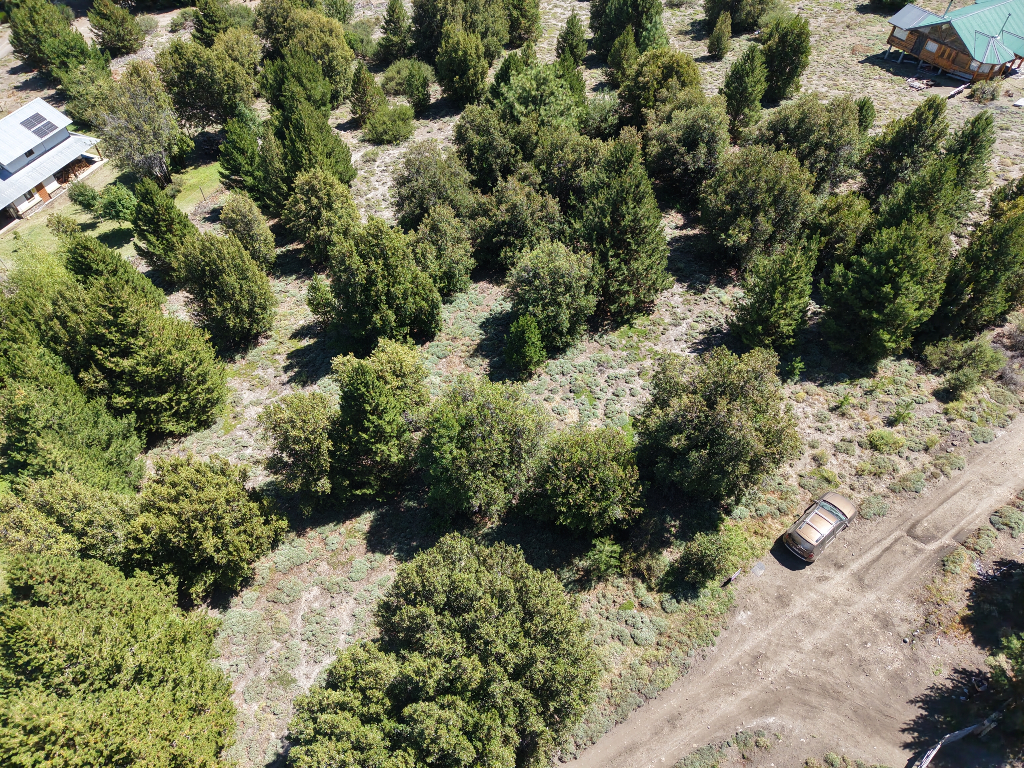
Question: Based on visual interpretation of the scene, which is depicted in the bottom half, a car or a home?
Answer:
car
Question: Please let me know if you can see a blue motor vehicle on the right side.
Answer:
No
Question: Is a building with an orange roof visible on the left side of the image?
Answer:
No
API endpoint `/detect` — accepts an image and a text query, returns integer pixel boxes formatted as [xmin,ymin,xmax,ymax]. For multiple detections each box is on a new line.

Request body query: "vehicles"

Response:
[785,493,855,560]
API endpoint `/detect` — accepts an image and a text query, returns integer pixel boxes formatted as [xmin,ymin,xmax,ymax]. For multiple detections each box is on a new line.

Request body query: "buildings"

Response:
[884,0,1024,86]
[0,96,109,215]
